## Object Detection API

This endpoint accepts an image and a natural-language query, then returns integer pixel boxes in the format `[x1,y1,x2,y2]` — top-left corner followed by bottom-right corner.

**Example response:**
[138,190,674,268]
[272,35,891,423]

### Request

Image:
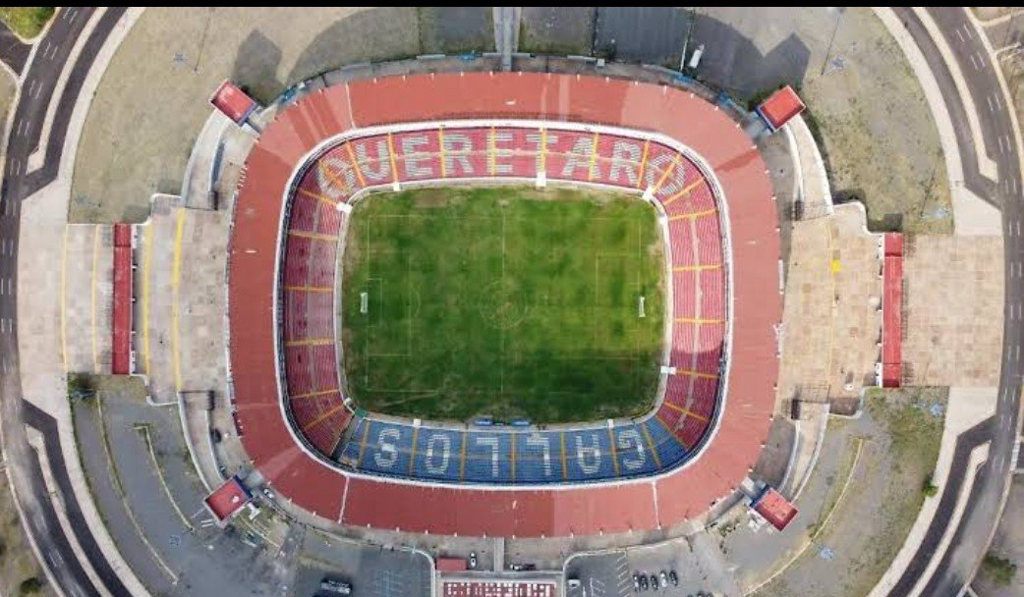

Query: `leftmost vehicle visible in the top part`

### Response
[688,47,701,67]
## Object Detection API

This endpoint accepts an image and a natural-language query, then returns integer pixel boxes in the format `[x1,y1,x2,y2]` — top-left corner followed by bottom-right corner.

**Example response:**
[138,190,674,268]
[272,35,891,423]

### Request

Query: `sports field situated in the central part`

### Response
[337,179,671,430]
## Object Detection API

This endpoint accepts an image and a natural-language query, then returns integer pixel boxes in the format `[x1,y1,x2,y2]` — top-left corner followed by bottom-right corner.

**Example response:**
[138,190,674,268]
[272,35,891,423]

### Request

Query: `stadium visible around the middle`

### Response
[225,69,786,540]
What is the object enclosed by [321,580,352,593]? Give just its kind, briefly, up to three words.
vehicle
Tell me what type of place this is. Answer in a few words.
sports ground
